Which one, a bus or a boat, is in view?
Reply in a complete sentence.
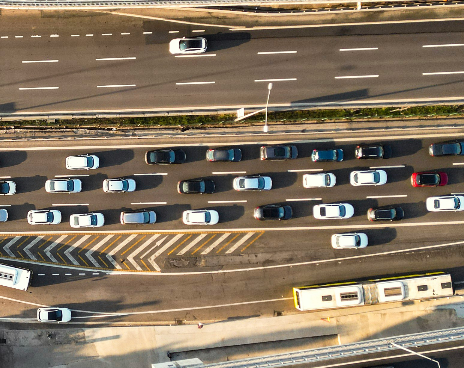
Visible in the photo is a bus.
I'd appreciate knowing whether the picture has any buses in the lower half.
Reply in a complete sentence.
Yes, a bus shows up in the lower half.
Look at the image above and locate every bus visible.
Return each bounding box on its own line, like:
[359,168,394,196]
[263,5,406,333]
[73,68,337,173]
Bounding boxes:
[0,263,35,293]
[289,274,458,313]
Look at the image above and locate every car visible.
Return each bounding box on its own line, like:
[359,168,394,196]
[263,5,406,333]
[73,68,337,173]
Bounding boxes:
[259,143,298,162]
[409,170,449,188]
[254,203,292,221]
[170,35,207,54]
[120,209,157,226]
[354,143,391,160]
[146,149,183,165]
[309,146,344,164]
[0,209,9,223]
[347,169,387,186]
[46,177,81,195]
[314,202,352,219]
[233,173,273,191]
[425,195,464,212]
[100,176,138,195]
[207,146,241,164]
[0,179,17,197]
[27,209,61,225]
[177,177,216,195]
[65,153,102,171]
[35,305,72,324]
[328,231,368,250]
[182,208,218,226]
[299,171,339,189]
[364,205,405,223]
[68,211,105,229]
